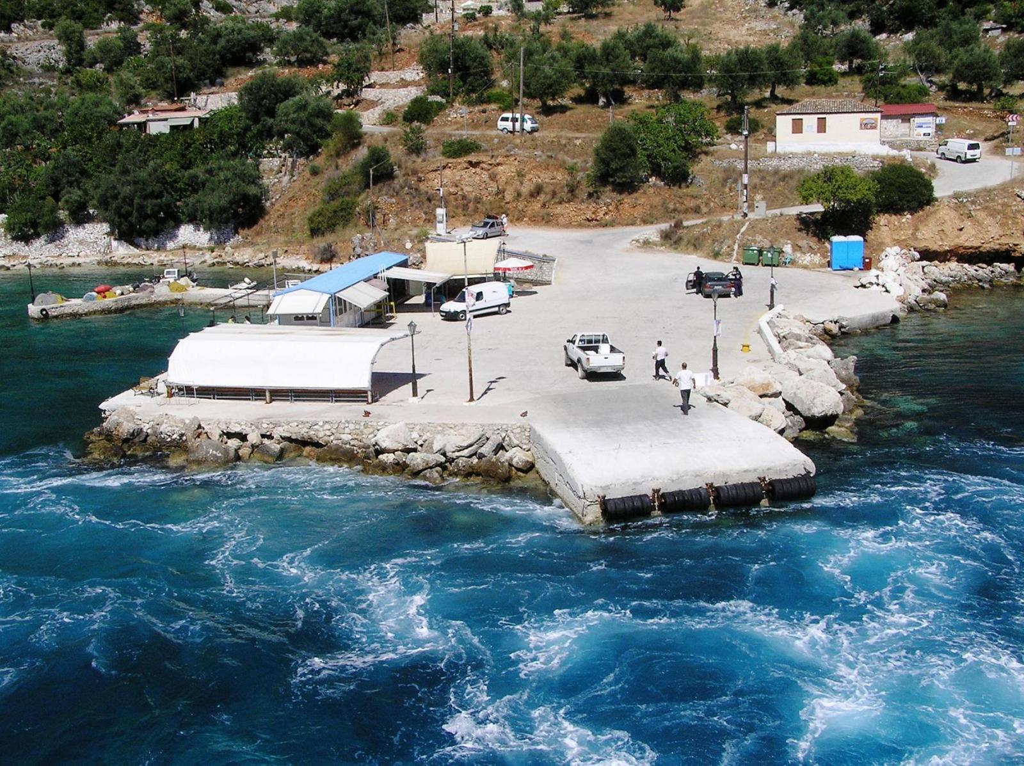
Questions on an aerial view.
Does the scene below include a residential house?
Yes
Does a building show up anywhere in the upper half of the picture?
Yes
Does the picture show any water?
Yes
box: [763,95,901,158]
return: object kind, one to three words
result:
house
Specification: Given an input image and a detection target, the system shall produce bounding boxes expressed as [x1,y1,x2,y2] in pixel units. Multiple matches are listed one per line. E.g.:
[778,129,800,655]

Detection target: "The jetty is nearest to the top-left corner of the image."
[28,284,289,326]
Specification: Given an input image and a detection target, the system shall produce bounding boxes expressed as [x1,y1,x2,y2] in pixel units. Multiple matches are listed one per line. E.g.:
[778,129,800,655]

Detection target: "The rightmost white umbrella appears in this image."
[497,250,536,285]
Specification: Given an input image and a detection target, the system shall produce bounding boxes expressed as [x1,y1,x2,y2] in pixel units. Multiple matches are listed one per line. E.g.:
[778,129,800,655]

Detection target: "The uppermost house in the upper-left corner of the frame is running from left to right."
[118,100,211,135]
